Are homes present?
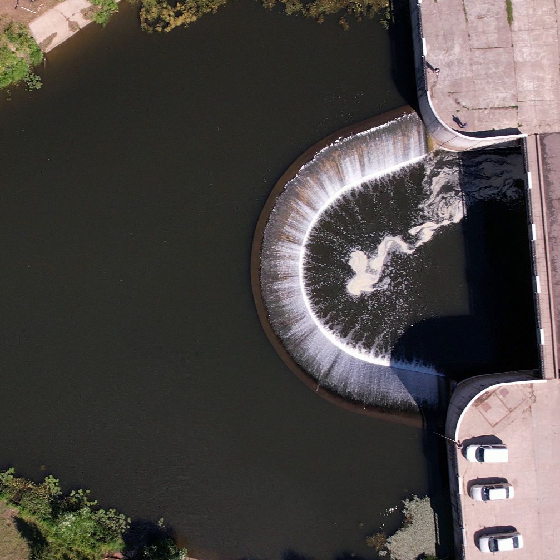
No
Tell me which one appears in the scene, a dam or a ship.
dam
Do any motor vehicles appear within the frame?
Yes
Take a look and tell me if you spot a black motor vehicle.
No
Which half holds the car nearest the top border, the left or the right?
right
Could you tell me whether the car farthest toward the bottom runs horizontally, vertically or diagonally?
horizontally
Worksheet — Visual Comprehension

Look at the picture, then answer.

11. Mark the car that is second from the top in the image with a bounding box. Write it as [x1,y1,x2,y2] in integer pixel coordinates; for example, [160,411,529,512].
[470,482,515,503]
